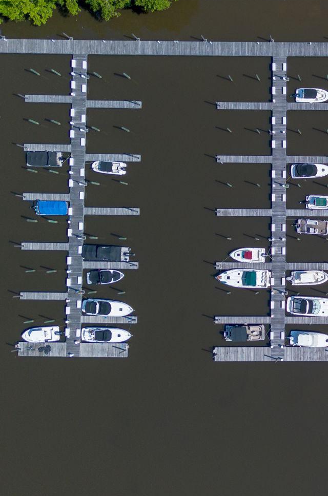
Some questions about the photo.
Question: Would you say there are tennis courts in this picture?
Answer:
No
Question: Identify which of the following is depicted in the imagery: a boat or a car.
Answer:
boat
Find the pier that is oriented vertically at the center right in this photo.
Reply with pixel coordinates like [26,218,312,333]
[214,56,328,362]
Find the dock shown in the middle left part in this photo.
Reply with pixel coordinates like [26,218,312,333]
[18,54,142,358]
